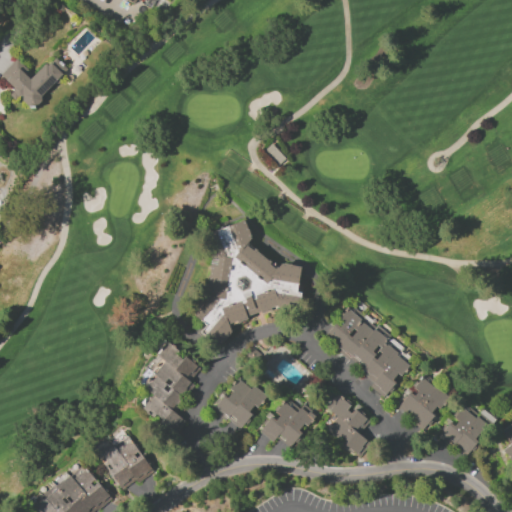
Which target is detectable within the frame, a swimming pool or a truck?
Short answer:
swimming pool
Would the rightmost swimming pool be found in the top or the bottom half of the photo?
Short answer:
bottom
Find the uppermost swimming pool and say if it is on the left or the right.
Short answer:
left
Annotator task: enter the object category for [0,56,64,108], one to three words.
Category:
house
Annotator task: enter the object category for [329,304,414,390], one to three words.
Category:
house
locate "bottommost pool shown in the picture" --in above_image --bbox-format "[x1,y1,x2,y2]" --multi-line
[260,344,315,391]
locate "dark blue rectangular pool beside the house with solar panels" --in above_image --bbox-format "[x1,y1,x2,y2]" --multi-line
[68,28,102,77]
